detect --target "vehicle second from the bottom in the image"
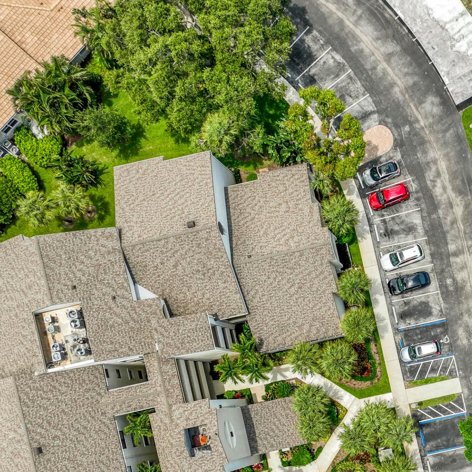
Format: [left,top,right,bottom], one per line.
[388,271,432,297]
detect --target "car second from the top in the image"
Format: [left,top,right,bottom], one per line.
[369,185,412,213]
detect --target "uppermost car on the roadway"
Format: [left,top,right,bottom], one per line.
[362,161,403,188]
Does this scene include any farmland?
No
